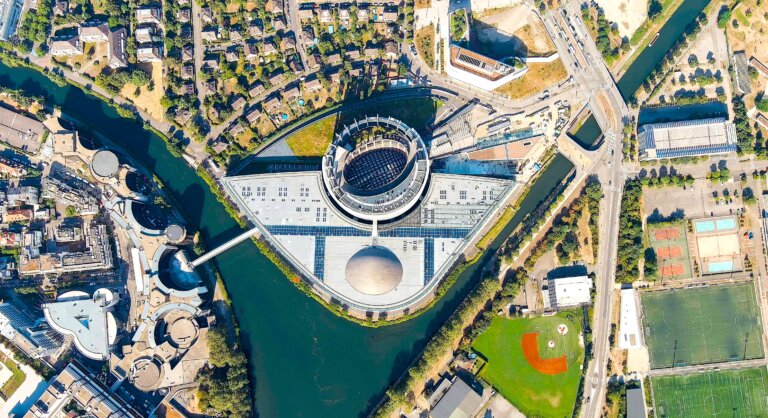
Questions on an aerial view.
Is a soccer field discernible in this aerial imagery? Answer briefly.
Yes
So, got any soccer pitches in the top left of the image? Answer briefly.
No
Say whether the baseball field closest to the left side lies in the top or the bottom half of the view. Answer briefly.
bottom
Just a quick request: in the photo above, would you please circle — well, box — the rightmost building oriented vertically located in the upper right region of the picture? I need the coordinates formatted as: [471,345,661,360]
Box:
[730,50,750,94]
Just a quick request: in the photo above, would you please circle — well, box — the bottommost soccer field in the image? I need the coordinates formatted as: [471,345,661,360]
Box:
[652,365,768,418]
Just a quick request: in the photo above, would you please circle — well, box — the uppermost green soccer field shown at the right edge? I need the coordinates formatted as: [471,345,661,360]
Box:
[641,280,766,368]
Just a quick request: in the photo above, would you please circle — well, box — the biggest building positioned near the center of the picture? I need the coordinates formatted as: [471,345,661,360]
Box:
[220,112,514,312]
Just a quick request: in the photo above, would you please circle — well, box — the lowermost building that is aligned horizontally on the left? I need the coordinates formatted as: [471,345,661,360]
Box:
[22,357,153,418]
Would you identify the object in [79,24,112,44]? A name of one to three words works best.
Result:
house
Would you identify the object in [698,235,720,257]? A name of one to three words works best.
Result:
sports court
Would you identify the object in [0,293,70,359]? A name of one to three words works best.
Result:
building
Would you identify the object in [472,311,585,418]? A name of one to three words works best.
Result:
baseball field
